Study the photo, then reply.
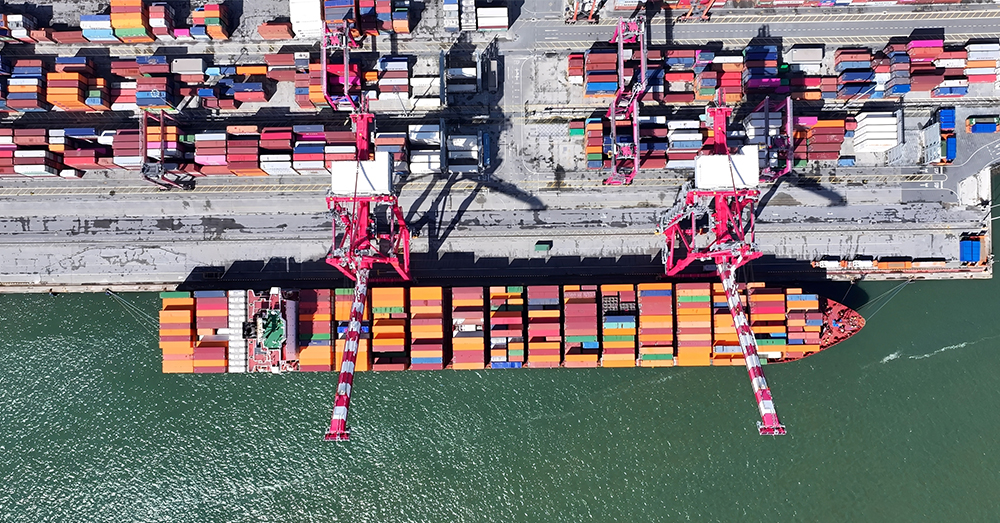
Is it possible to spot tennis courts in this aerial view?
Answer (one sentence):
No, there appears to be no tennis court in this shot.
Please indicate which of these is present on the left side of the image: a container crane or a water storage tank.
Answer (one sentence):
There is a container crane on the left side of the image.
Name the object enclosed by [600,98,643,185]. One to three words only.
container crane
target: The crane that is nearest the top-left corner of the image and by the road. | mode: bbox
[135,105,196,192]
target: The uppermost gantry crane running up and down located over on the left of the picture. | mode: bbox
[317,20,362,113]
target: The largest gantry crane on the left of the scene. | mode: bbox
[316,91,424,441]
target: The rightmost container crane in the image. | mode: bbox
[742,96,799,183]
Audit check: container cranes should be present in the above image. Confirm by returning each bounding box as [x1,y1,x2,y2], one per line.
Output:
[316,91,424,441]
[605,18,648,109]
[317,20,362,113]
[135,105,196,192]
[650,85,791,436]
[742,96,799,183]
[681,0,719,21]
[600,98,643,185]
